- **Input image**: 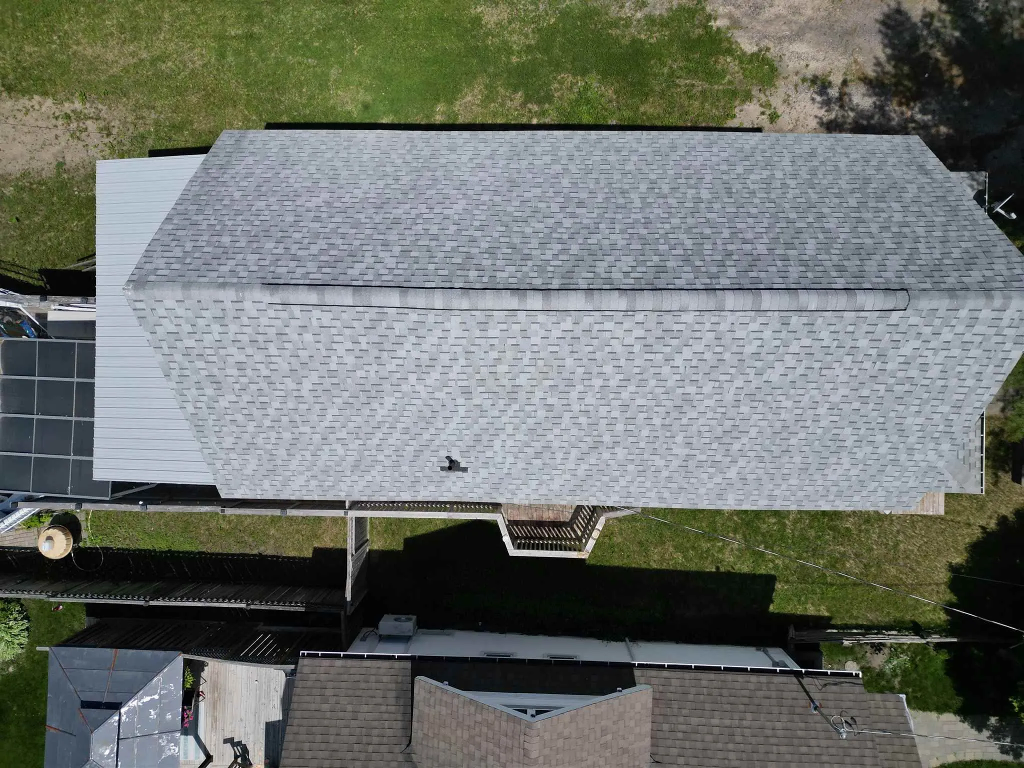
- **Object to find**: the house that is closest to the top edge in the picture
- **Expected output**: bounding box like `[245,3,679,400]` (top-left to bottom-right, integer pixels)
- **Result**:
[121,128,1024,514]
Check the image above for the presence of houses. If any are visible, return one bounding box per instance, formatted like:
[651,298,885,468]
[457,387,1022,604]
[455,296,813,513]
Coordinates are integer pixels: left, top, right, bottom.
[276,630,926,768]
[121,128,1024,514]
